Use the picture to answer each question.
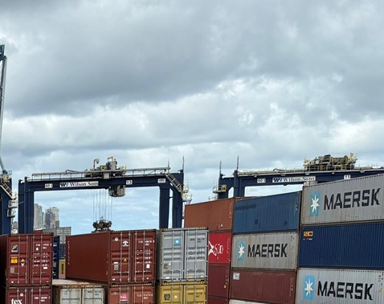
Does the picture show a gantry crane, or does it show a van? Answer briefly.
gantry crane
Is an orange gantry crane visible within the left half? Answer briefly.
No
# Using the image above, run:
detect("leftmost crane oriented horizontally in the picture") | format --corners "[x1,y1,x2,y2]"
[14,157,206,234]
